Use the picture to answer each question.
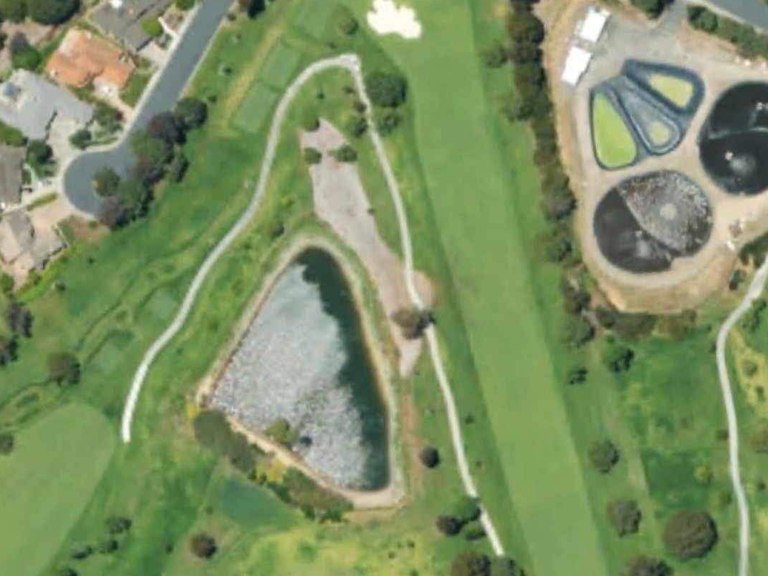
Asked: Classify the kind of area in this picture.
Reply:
golf course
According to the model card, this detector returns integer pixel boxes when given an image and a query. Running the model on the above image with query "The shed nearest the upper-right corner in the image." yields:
[580,9,610,42]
